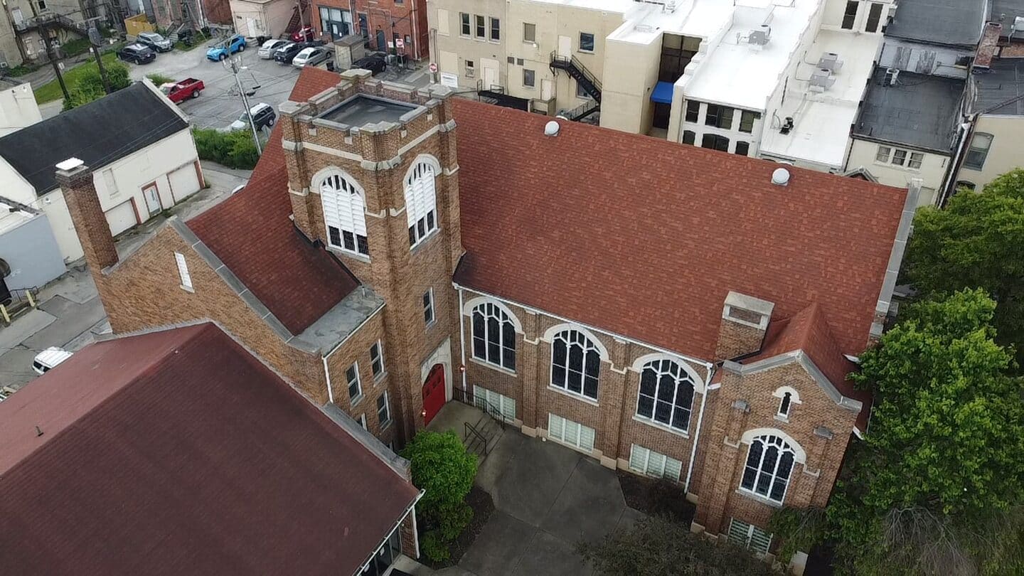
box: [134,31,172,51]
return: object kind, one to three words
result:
car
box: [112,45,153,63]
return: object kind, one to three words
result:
car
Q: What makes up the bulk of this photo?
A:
buildings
